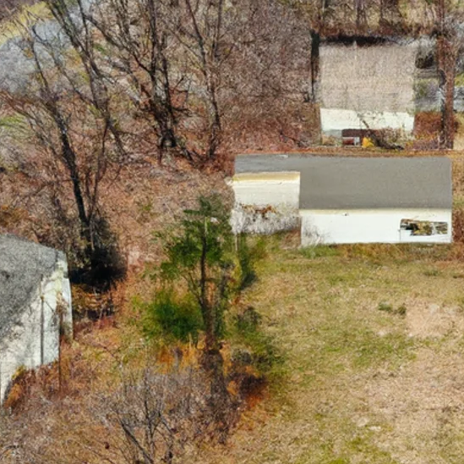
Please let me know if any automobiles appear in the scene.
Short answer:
No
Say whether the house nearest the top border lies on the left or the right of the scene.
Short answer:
right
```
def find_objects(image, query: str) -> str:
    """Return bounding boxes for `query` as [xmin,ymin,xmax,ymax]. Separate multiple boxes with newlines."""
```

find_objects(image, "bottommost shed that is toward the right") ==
[227,152,458,244]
